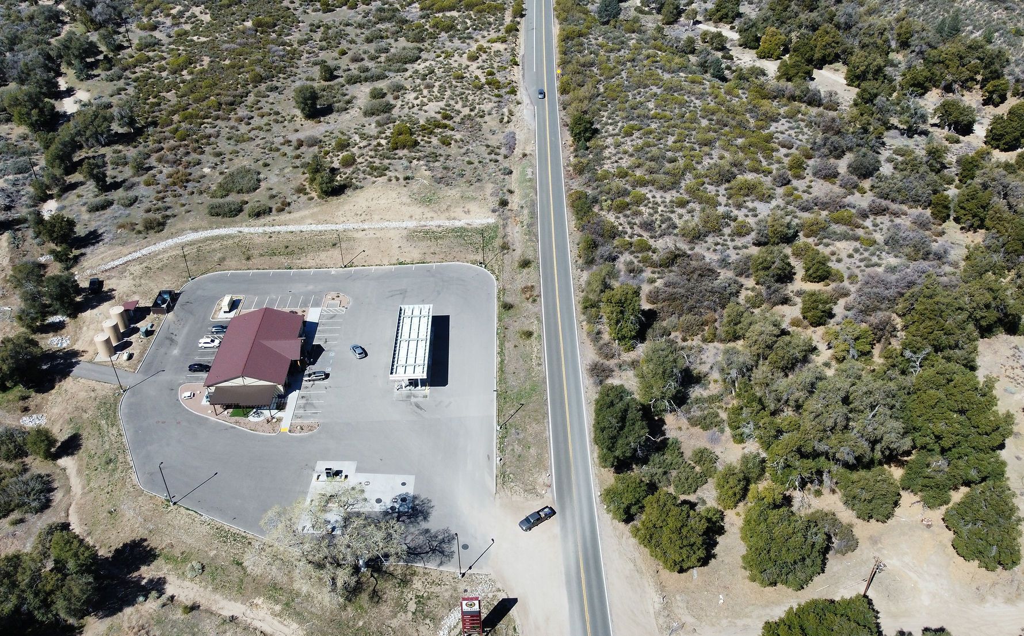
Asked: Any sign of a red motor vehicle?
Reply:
No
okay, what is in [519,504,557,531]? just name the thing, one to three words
truck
